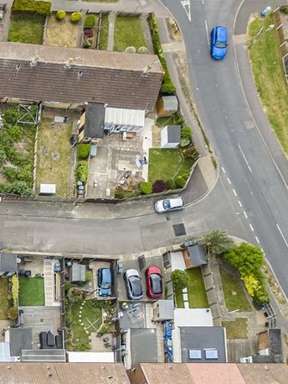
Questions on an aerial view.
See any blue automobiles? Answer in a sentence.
Yes, you can see a blue automobile in this photo.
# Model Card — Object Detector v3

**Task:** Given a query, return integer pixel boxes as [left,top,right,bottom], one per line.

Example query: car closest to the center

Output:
[151,197,185,214]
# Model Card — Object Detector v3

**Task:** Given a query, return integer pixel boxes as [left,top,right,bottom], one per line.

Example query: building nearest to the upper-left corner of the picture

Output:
[0,39,53,107]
